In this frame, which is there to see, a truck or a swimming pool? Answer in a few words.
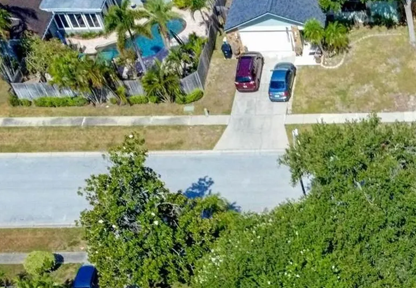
swimming pool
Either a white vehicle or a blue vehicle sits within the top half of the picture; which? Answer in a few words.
blue vehicle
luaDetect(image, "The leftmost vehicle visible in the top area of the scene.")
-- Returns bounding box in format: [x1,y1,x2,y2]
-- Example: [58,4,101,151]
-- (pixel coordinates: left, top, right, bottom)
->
[235,54,264,89]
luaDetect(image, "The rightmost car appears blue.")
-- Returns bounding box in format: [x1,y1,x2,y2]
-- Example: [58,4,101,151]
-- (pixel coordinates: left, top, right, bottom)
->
[268,64,296,99]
